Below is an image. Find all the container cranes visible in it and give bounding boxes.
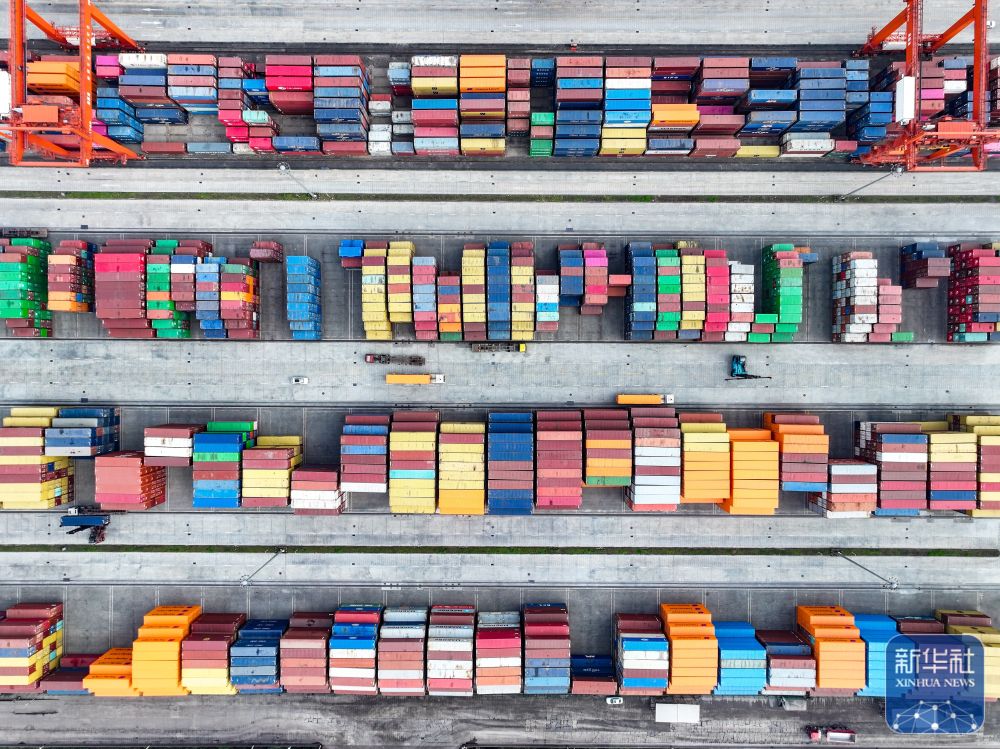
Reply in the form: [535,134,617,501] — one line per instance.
[856,0,1000,172]
[0,0,146,168]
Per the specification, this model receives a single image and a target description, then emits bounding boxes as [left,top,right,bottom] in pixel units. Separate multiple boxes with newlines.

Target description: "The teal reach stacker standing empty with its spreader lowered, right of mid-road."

[725,350,774,380]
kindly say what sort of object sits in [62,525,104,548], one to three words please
work vehicle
